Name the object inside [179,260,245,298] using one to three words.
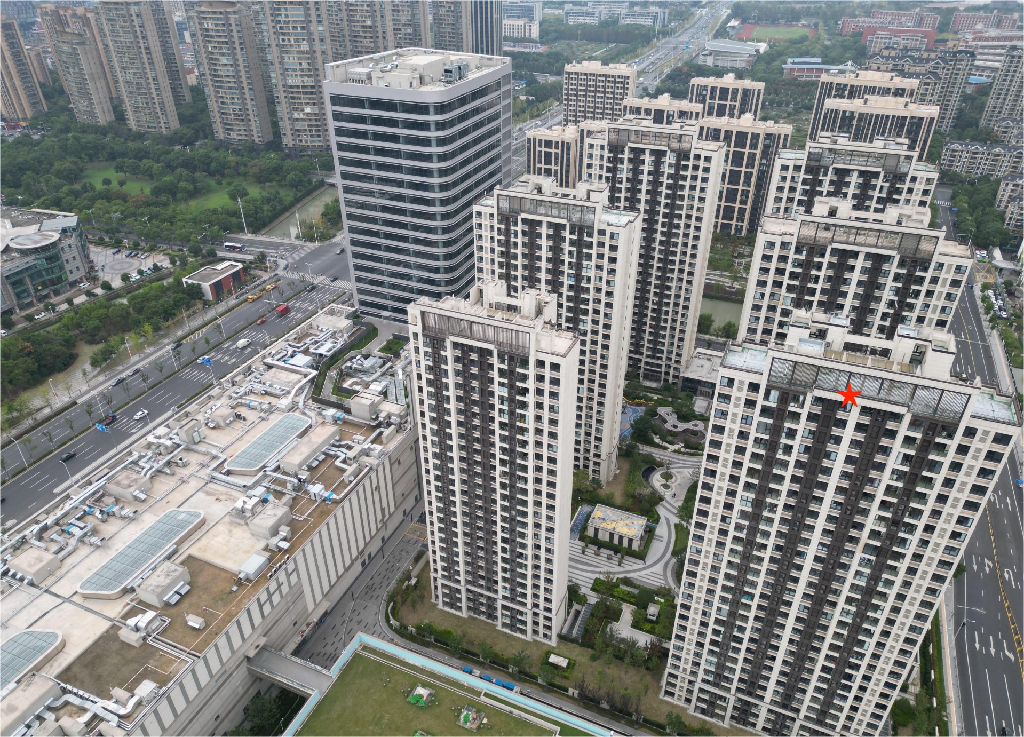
building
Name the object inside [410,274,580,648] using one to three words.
building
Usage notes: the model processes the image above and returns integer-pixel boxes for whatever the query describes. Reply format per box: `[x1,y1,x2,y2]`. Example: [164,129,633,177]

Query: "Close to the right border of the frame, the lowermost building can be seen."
[659,308,1024,737]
